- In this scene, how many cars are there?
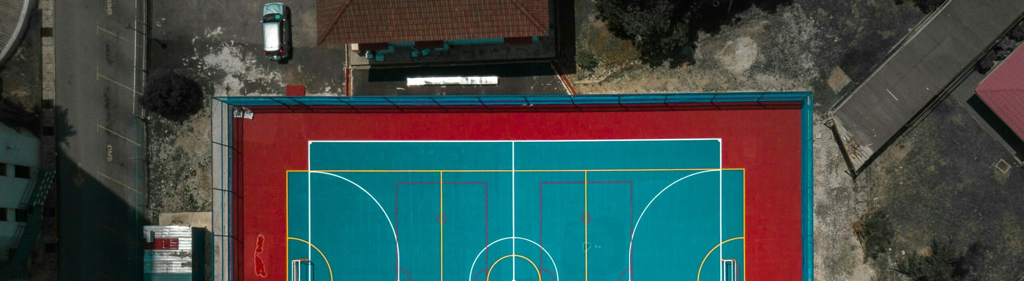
1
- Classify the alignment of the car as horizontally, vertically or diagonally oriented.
vertically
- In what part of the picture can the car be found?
top left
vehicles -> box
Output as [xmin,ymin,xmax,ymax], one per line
[260,4,290,62]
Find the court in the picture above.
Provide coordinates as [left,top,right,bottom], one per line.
[212,94,812,281]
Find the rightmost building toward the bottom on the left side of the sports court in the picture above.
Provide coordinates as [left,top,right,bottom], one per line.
[144,226,205,281]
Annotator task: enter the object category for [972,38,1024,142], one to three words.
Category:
house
